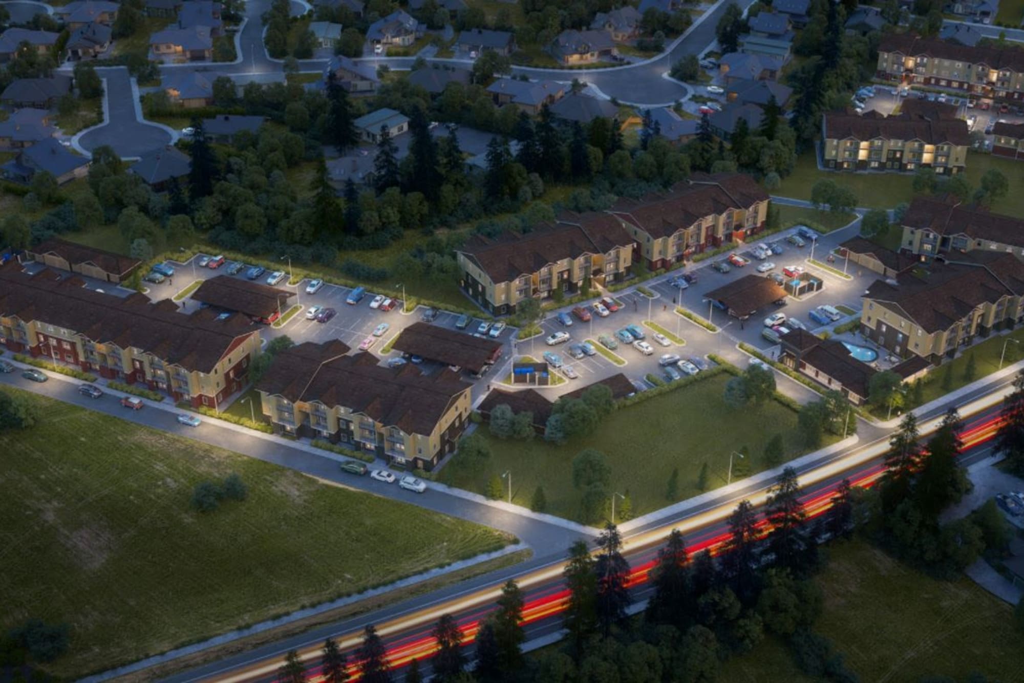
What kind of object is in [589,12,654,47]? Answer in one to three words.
house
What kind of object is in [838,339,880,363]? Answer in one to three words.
swimming pool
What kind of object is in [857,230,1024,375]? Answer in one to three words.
building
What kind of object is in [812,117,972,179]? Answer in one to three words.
building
